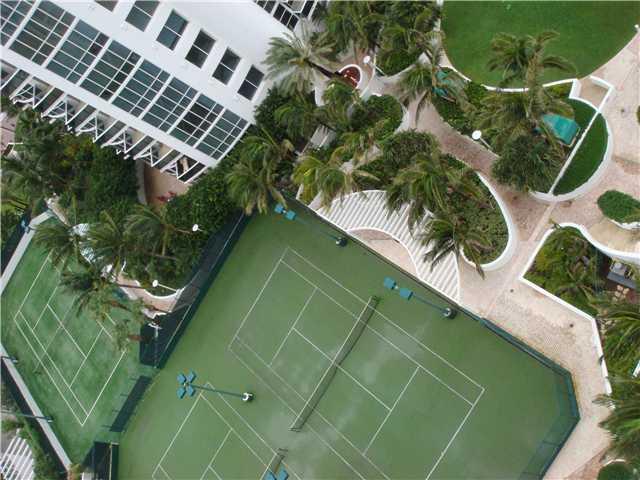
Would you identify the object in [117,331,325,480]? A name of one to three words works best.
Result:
tennis court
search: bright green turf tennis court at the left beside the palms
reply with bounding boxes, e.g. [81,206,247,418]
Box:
[0,212,191,480]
